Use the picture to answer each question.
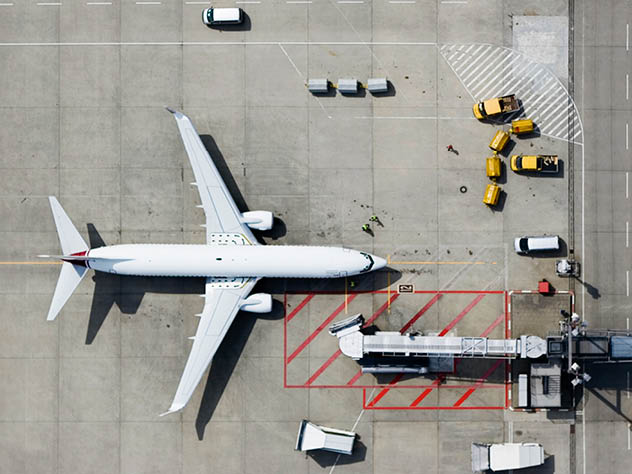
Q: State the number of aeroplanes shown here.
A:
1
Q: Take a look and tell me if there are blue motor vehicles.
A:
No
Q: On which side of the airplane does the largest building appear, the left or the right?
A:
to the right of it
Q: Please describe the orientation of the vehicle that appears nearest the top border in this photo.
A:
from side to side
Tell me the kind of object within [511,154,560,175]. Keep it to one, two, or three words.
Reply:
vehicle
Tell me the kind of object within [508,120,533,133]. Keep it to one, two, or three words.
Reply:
vehicle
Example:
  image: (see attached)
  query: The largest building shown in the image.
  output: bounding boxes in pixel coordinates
[526,360,560,408]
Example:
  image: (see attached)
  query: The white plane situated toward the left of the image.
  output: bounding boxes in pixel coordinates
[43,107,386,414]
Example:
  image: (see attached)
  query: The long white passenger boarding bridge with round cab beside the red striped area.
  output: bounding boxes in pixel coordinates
[329,314,546,374]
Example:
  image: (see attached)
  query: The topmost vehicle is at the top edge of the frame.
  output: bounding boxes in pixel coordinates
[202,6,243,26]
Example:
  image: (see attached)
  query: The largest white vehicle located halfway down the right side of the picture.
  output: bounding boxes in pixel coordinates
[513,234,559,254]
